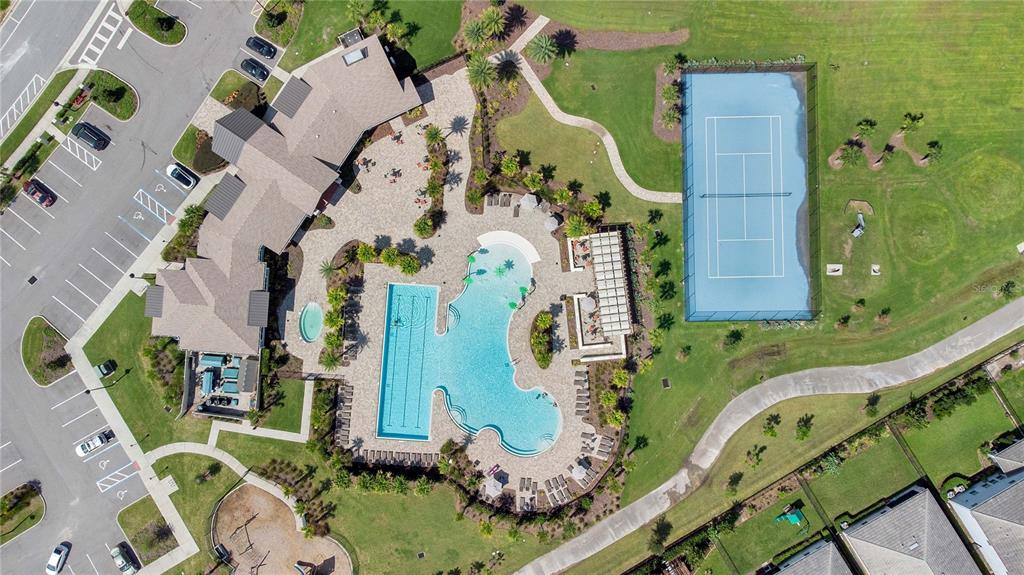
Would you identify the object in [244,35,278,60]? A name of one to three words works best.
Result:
car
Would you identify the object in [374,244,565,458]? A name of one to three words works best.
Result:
swimming pool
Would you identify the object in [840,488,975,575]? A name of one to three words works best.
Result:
house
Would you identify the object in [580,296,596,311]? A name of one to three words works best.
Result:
umbrella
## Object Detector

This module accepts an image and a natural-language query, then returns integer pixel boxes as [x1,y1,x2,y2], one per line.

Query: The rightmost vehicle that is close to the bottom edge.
[110,546,140,575]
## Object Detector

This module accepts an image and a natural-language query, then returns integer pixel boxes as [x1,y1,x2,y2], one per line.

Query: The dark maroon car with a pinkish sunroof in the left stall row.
[23,180,56,206]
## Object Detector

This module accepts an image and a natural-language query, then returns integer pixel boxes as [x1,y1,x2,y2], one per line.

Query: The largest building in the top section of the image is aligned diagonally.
[145,34,422,356]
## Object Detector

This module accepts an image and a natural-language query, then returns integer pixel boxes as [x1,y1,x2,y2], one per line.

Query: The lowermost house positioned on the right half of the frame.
[772,540,849,575]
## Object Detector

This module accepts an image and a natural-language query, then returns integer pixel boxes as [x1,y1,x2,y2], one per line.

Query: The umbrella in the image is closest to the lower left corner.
[484,477,503,496]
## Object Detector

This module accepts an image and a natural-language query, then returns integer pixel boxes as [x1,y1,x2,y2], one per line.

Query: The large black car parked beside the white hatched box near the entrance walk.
[72,123,110,149]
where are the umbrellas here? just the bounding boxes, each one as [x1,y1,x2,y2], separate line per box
[484,477,503,496]
[545,216,562,233]
[570,463,587,480]
[580,296,596,311]
[518,194,537,213]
